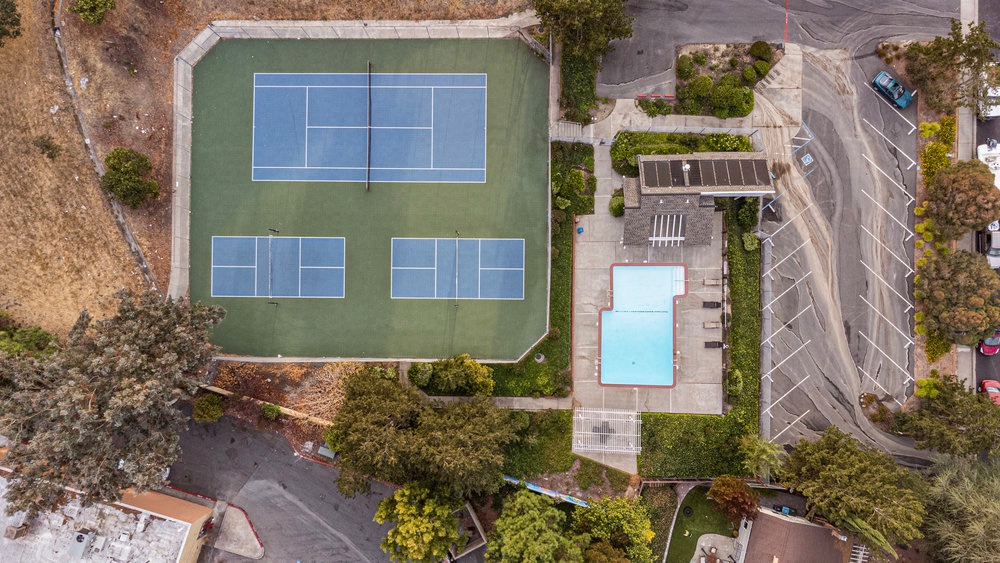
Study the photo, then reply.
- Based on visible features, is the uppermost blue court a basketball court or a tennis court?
tennis court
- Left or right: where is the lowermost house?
right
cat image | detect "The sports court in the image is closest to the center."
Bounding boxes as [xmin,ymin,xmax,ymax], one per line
[391,238,524,300]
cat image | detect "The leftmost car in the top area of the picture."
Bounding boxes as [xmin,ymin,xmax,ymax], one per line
[871,69,915,109]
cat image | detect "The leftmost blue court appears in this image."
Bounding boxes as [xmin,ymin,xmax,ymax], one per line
[211,236,345,299]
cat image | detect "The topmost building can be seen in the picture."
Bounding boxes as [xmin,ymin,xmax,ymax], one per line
[620,151,775,247]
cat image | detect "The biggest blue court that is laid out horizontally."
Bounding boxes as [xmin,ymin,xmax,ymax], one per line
[252,72,487,183]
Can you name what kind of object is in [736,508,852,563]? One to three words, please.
house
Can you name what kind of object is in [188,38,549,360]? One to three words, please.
sports court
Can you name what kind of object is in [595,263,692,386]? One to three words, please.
swimming pool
